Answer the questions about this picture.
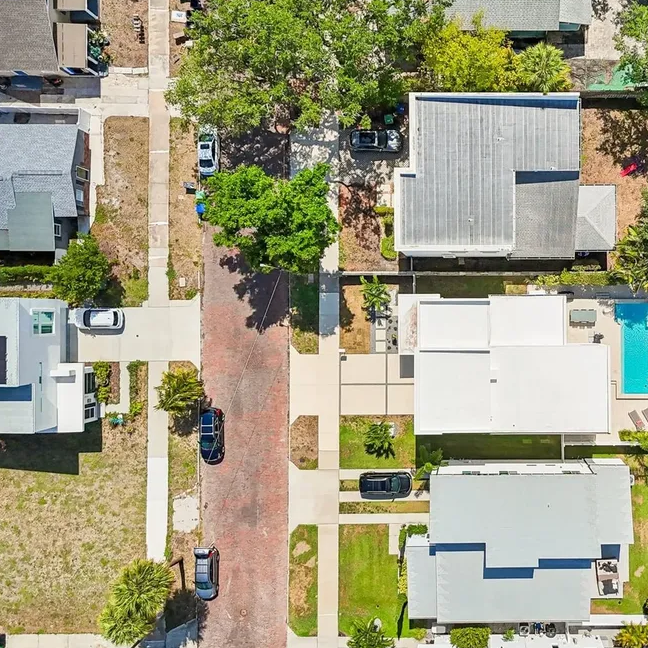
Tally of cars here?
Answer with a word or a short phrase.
six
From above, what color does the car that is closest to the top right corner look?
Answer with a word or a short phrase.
black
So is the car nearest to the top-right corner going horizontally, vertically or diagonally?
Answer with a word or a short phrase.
horizontally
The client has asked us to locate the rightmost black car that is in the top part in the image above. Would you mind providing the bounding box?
[351,128,404,154]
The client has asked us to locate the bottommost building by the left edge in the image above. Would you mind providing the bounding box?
[0,299,101,433]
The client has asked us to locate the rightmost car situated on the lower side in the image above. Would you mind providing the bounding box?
[359,471,414,499]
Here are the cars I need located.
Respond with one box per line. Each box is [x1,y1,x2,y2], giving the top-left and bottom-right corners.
[359,471,414,499]
[196,127,222,178]
[80,307,132,333]
[351,128,404,154]
[198,408,226,462]
[193,546,221,599]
